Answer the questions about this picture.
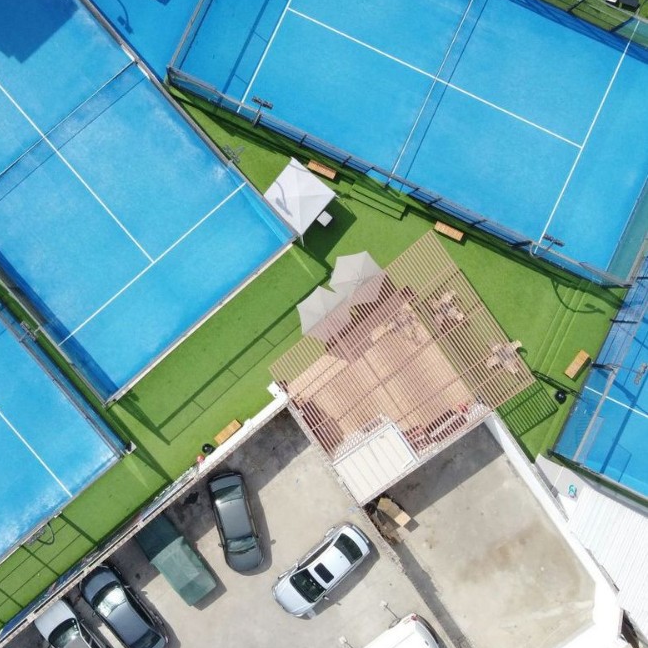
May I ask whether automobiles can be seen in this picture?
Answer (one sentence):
Yes, there's an automobile down there.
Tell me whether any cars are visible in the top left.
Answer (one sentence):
No, there is no car in the top left.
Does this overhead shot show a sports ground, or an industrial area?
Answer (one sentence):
This image shows a sports ground.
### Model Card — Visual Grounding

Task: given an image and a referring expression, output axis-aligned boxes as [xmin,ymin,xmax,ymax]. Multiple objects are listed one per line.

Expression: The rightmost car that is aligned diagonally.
[275,522,373,616]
